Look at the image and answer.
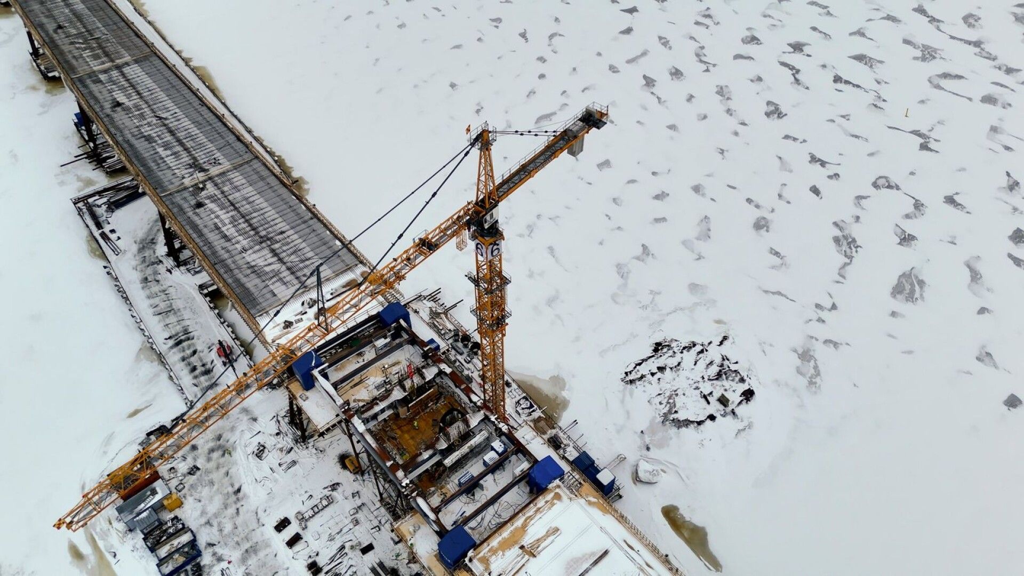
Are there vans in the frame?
No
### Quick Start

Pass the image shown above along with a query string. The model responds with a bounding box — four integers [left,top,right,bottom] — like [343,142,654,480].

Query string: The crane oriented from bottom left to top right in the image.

[39,106,614,538]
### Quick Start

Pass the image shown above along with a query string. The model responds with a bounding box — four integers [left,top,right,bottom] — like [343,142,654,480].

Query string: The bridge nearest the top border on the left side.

[0,0,411,408]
